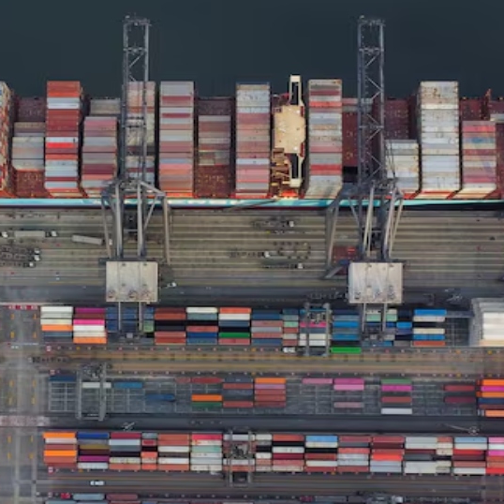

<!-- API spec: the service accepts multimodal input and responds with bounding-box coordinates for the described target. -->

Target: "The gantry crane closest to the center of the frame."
[293,300,332,357]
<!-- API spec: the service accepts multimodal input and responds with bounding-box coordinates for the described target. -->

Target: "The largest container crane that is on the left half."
[101,15,173,337]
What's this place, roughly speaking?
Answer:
port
